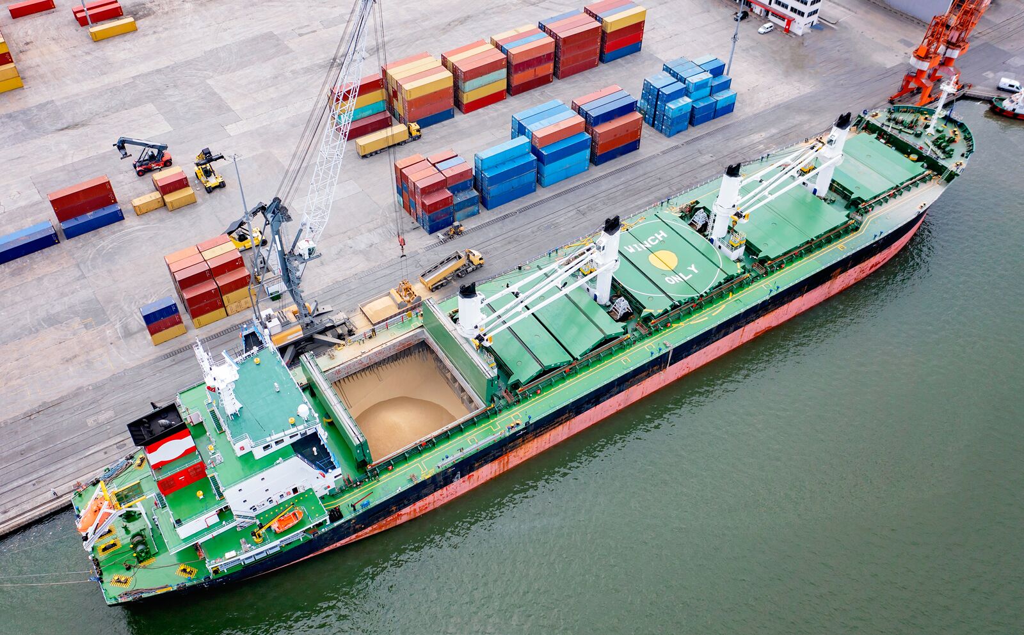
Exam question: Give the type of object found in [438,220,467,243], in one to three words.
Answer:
work vehicle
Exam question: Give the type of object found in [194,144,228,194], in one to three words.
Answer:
work vehicle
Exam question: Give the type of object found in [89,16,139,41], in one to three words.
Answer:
shipping container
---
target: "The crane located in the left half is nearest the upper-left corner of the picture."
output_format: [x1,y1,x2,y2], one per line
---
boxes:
[235,0,398,370]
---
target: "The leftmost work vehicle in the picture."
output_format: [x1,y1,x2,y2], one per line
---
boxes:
[119,144,171,176]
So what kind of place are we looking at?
port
